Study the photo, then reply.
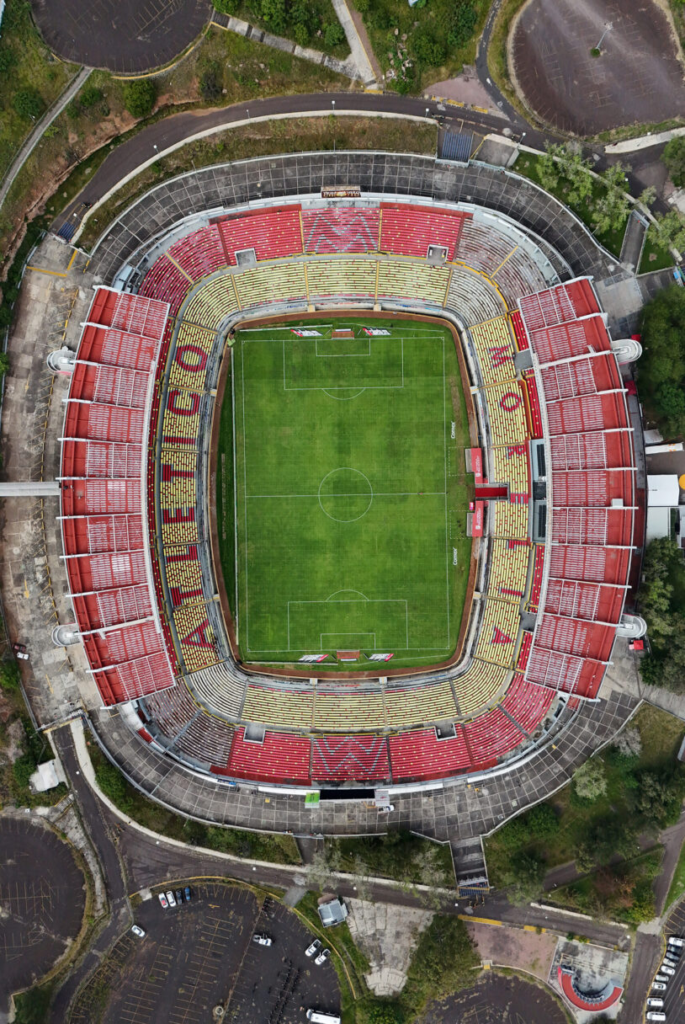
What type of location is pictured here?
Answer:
sports ground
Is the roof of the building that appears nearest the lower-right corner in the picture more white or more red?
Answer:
red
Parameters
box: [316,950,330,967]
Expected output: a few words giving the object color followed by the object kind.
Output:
white vehicle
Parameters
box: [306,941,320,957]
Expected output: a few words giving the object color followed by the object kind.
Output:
white vehicle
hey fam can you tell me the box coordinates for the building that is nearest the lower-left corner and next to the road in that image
[30,756,63,792]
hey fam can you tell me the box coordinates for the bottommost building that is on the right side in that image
[556,965,624,1012]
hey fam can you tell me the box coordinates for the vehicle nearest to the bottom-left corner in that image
[131,926,144,938]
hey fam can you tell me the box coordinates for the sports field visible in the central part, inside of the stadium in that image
[209,310,480,678]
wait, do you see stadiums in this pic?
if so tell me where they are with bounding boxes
[49,192,645,797]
